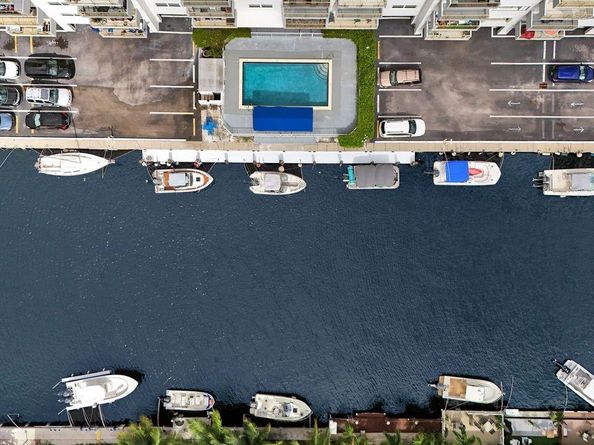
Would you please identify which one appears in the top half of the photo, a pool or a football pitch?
pool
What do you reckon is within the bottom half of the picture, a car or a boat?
boat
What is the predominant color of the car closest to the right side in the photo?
blue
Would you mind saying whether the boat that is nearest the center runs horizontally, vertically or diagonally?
horizontally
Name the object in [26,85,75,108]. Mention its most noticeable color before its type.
white car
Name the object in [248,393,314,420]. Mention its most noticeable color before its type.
white boat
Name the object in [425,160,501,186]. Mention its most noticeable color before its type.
white boat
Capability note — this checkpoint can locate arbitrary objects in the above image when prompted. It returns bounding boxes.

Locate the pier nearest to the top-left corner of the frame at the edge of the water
[142,151,172,163]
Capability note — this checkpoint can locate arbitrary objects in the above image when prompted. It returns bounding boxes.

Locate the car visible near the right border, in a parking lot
[549,64,594,85]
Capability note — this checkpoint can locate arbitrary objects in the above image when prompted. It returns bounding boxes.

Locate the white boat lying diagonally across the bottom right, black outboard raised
[552,358,594,406]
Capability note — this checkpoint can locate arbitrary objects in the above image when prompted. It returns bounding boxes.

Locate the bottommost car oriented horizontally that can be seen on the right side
[379,117,423,139]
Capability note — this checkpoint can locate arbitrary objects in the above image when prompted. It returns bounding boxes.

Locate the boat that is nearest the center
[246,170,306,196]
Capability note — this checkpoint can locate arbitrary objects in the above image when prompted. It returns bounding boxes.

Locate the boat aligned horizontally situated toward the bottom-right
[429,373,504,403]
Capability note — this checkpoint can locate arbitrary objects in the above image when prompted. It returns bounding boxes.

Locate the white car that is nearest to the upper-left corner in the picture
[0,58,23,81]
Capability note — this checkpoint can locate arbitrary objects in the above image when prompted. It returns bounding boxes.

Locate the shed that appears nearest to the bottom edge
[198,57,224,96]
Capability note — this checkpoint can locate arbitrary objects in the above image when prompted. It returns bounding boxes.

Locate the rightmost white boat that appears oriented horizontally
[532,169,594,197]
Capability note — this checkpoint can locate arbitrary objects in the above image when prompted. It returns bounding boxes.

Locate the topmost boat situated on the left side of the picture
[33,149,115,175]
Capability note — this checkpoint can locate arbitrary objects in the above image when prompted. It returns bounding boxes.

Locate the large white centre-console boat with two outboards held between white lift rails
[53,374,138,409]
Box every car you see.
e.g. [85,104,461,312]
[379,117,423,139]
[0,114,17,133]
[0,84,26,106]
[26,85,75,108]
[0,58,23,81]
[379,67,420,88]
[549,64,594,85]
[28,110,74,132]
[25,55,78,81]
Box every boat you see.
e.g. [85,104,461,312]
[248,393,314,420]
[151,167,213,194]
[429,373,504,403]
[53,374,138,409]
[425,160,501,186]
[339,165,399,190]
[157,390,215,410]
[246,170,306,196]
[532,169,594,197]
[552,358,594,406]
[33,149,115,175]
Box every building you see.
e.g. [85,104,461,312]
[0,0,594,40]
[198,57,224,96]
